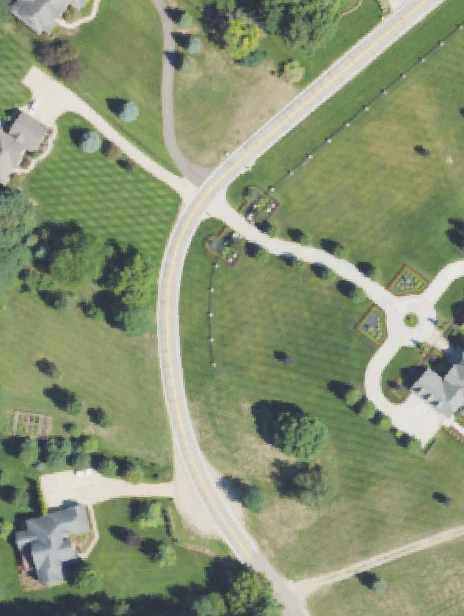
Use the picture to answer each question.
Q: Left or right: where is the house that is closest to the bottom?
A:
left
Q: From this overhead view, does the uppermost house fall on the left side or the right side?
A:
left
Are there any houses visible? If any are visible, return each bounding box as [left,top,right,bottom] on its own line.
[14,506,91,585]
[0,109,49,193]
[5,0,87,40]
[410,345,464,419]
